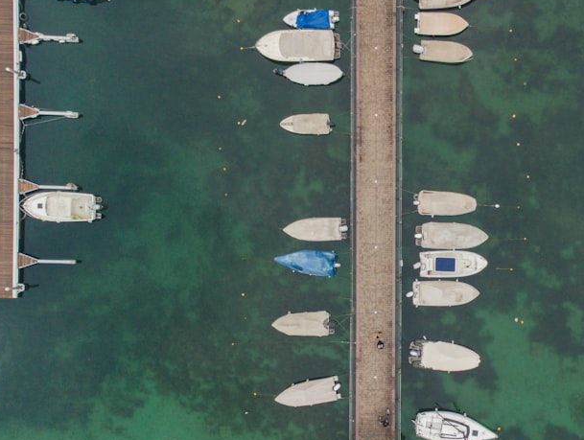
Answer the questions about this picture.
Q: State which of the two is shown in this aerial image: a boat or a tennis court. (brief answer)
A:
boat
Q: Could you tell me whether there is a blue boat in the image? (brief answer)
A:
Yes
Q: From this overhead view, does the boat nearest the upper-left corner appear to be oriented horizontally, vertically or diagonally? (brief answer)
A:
horizontally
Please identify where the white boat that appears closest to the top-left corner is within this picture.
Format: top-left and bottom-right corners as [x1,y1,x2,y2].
[19,189,108,224]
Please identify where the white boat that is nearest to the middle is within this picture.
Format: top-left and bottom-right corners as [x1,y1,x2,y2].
[282,216,348,242]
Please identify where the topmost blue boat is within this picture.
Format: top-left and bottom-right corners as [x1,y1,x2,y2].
[283,6,339,29]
